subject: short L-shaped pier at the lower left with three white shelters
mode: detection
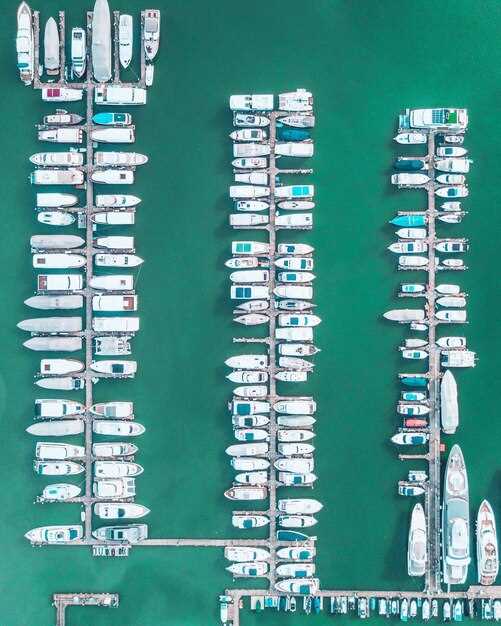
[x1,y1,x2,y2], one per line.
[53,591,120,626]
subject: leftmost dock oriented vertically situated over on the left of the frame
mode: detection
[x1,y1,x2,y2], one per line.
[27,10,147,547]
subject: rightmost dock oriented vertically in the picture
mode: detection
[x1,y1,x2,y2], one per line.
[396,128,469,589]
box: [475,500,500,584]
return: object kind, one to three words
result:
boat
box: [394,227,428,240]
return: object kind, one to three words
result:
boat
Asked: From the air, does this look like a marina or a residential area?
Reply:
marina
